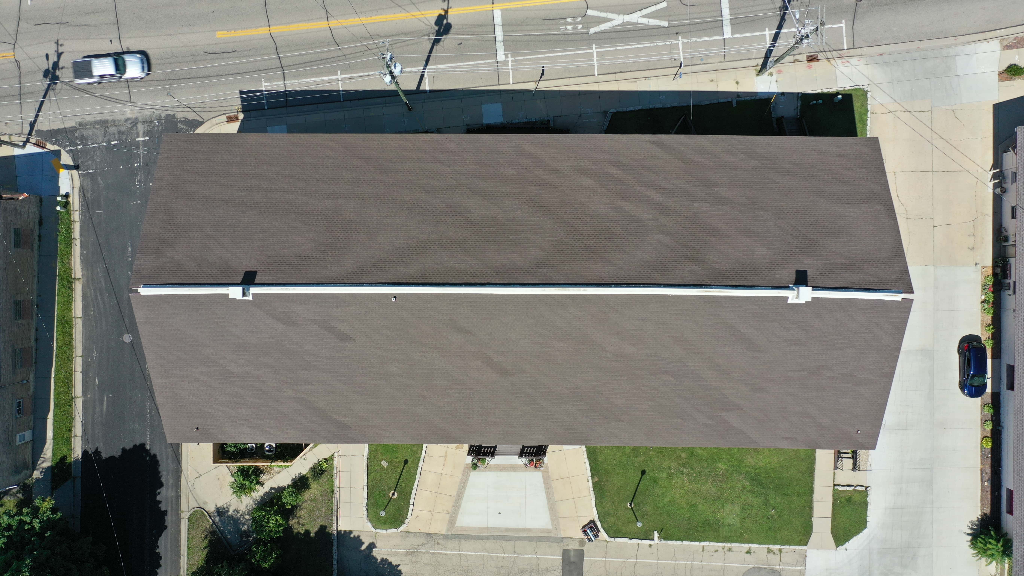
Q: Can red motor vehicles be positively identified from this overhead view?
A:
No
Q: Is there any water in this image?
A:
No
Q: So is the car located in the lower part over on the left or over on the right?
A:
right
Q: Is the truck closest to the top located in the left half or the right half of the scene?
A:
left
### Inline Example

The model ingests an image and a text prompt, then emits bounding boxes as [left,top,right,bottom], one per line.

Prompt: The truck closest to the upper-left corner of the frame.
[71,49,151,86]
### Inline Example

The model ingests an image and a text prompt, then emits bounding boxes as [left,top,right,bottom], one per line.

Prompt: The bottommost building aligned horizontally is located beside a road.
[129,133,914,450]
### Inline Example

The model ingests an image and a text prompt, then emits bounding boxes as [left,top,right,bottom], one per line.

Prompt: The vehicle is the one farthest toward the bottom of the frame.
[957,342,991,397]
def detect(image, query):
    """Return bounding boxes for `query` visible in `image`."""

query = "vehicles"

[71,49,151,86]
[957,342,991,397]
